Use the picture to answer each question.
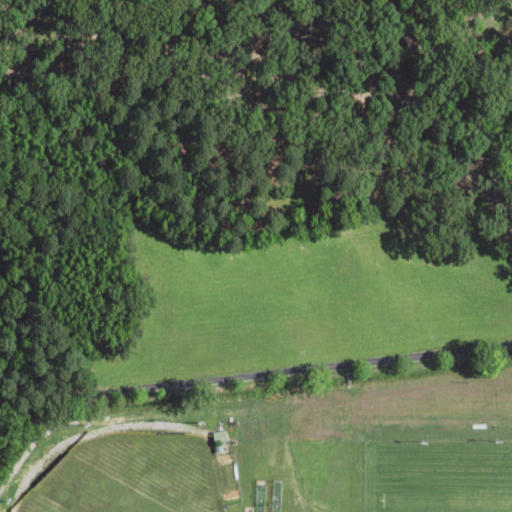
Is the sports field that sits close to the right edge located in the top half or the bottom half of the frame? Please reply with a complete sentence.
The sports field that sits close to the right edge is in the bottom half of the image.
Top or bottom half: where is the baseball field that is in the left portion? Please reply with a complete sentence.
The baseball field that is in the left portion sits in the bottom half of the picture.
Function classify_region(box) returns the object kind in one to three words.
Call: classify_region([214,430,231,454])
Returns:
building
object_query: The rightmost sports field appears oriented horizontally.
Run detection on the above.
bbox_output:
[366,442,512,512]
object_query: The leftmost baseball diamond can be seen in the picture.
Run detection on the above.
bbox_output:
[10,422,225,512]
